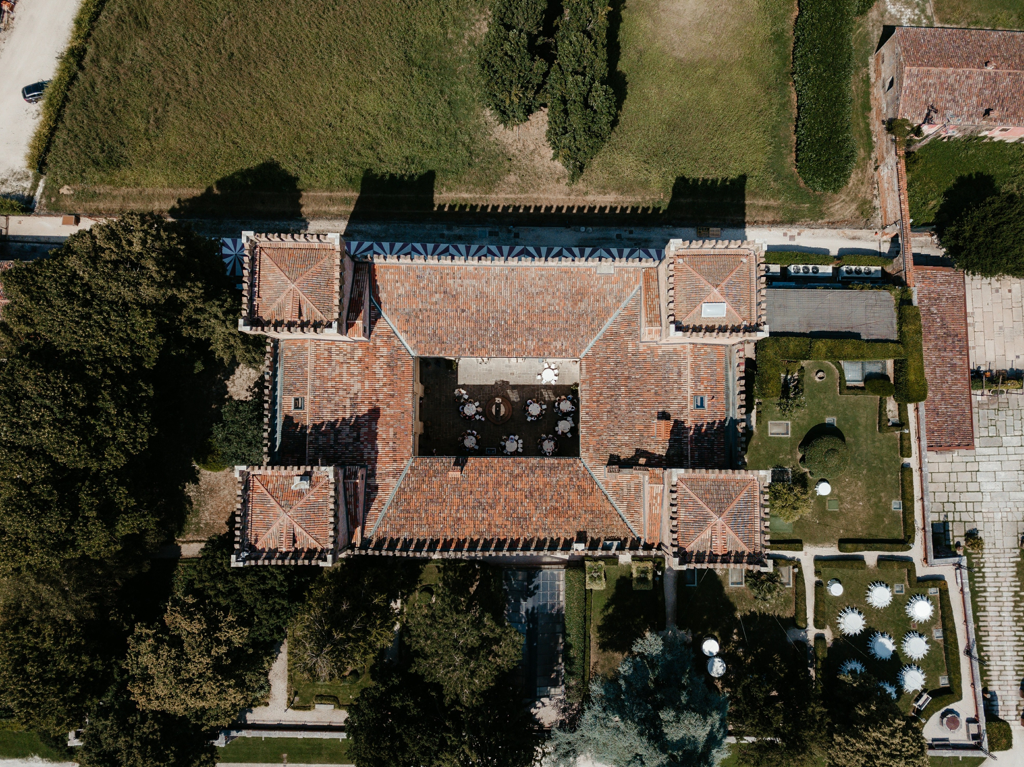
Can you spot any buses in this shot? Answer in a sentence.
No, I can't see a single bus in this photo.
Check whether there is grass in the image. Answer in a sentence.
Yes, grass can be seen from above here.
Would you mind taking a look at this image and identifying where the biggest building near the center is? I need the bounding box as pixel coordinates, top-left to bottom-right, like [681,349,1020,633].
[230,231,773,572]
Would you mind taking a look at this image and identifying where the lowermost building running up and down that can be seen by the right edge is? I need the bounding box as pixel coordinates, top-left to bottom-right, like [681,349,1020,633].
[915,267,976,450]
